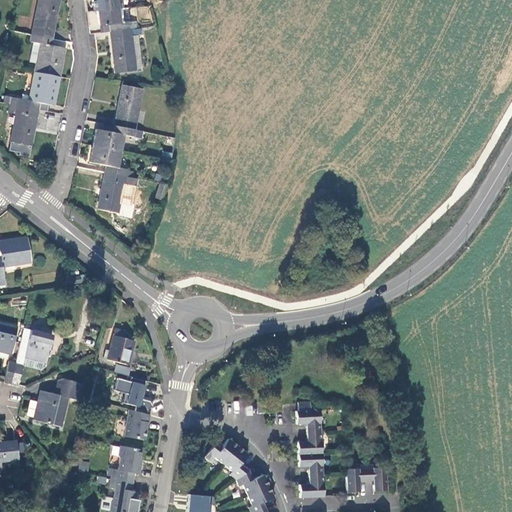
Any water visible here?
No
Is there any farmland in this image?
Yes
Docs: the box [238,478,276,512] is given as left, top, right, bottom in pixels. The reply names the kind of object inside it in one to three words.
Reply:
house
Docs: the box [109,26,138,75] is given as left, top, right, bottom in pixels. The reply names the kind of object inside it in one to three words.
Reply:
house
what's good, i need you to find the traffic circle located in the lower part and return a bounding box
[164,296,240,368]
